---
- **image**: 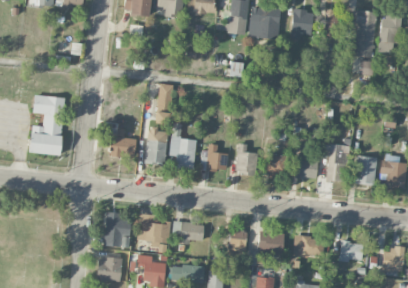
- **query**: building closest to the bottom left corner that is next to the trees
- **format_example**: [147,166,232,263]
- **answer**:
[98,255,124,283]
